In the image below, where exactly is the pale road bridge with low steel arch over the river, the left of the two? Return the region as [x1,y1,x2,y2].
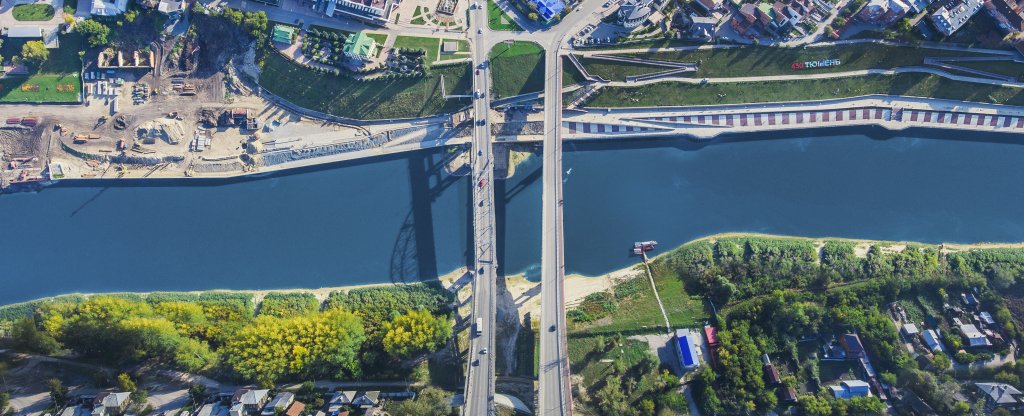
[463,36,497,416]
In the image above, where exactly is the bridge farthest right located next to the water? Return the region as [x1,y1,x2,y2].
[538,46,572,416]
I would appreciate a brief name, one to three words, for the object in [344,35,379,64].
house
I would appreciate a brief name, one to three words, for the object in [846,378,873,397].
house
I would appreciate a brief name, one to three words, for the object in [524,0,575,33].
building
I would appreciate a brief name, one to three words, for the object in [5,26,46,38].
building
